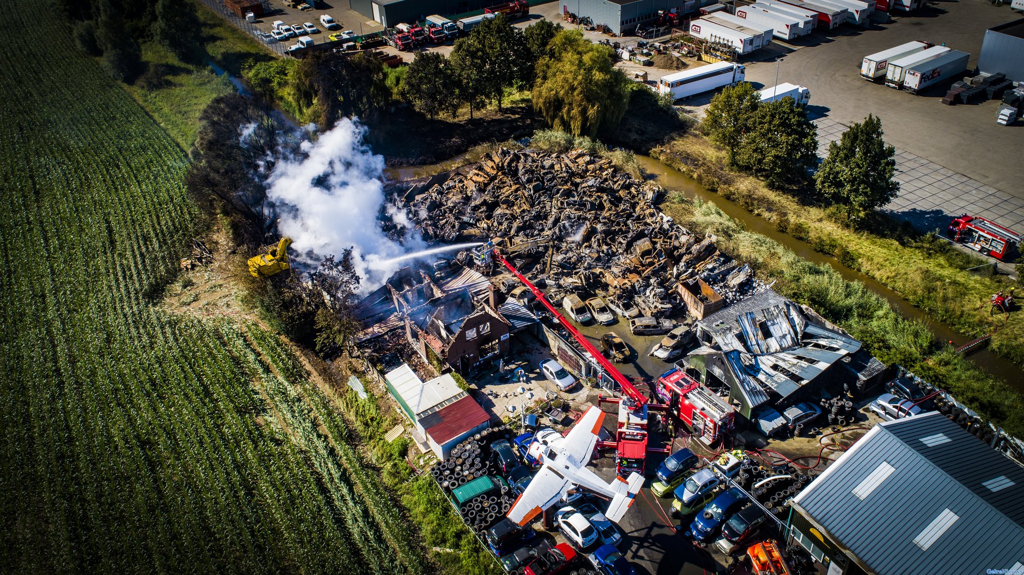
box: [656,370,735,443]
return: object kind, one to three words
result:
truck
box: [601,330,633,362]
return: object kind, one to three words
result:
car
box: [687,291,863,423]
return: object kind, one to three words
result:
warehouse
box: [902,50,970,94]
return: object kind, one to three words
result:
trailer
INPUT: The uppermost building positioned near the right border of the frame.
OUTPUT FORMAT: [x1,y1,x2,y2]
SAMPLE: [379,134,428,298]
[976,18,1024,84]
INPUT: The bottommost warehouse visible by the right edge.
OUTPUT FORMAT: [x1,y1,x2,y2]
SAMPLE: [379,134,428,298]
[780,410,1024,575]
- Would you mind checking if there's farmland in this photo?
Yes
